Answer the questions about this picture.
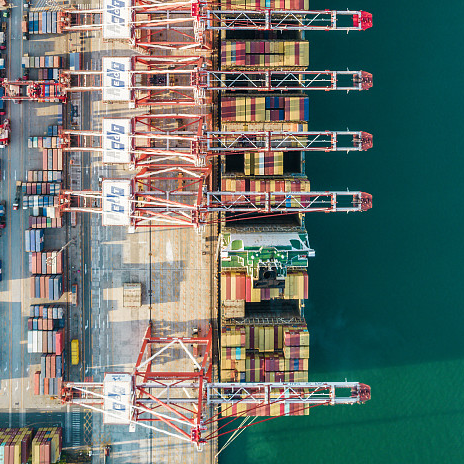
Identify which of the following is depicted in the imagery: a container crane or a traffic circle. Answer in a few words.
container crane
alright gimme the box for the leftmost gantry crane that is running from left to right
[0,73,69,108]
